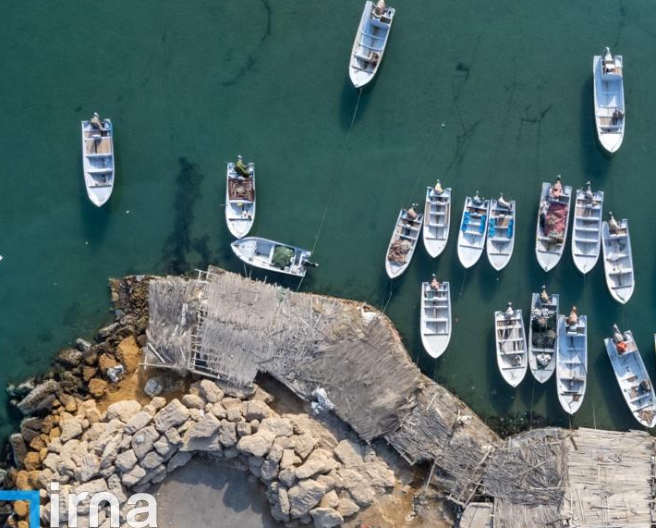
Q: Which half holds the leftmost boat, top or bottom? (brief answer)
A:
top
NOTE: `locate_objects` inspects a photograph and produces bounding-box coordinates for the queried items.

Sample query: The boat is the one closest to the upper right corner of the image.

[594,46,625,155]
